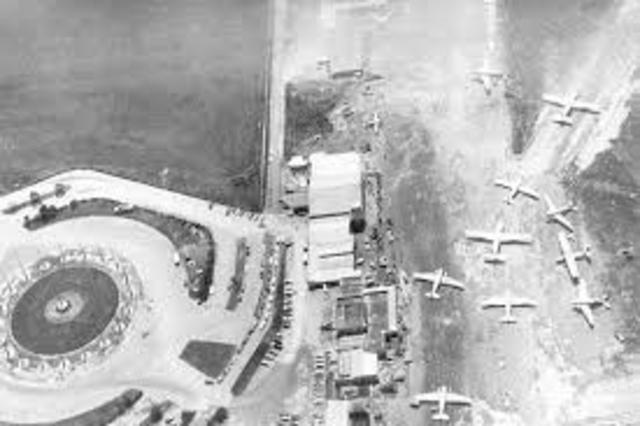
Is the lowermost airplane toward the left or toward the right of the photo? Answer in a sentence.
It is on the right.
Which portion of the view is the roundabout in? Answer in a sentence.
The roundabout is located in the bottom left region of the scene.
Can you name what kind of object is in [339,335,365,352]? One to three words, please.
shed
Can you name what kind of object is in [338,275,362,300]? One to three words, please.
building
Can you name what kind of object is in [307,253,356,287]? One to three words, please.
hangar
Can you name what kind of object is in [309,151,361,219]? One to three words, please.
hangar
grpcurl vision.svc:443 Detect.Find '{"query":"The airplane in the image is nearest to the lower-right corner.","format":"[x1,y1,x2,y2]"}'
[576,280,609,327]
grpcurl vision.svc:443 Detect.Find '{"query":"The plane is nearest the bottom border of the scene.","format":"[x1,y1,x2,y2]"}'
[412,385,472,422]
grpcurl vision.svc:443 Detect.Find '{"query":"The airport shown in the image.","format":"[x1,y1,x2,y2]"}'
[282,0,640,426]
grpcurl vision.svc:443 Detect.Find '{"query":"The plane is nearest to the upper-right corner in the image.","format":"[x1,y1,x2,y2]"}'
[543,91,601,122]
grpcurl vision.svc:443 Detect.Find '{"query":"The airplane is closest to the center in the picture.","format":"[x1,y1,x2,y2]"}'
[364,110,381,129]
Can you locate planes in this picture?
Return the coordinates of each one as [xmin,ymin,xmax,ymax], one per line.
[465,220,532,260]
[576,280,609,327]
[558,235,592,282]
[413,268,465,299]
[315,61,332,71]
[482,290,536,323]
[543,91,601,122]
[545,192,578,231]
[364,110,381,129]
[412,385,472,422]
[494,179,539,206]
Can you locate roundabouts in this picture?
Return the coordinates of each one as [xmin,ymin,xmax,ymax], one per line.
[0,244,144,379]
